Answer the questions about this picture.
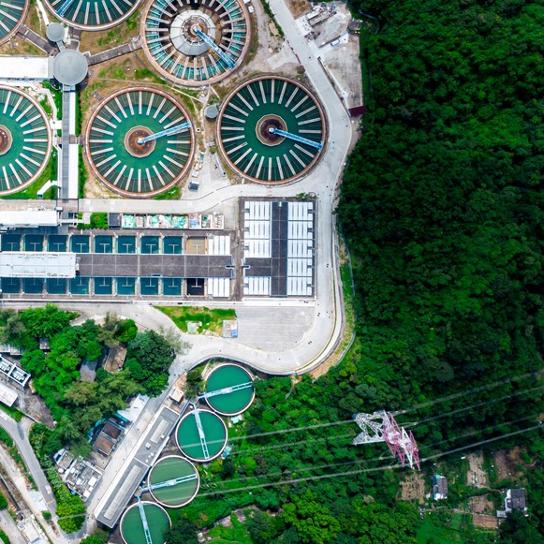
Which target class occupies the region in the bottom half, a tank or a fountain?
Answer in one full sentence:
What appears in the bottom half is a tank.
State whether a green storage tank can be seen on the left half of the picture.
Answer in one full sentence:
Yes, on the left half of the picture there is a green storage tank.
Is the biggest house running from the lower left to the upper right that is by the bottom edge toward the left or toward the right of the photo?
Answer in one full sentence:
The biggest house running from the lower left to the upper right that is by the bottom edge sits on the left side.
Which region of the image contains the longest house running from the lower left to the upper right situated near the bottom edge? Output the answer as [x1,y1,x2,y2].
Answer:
[91,401,180,528]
